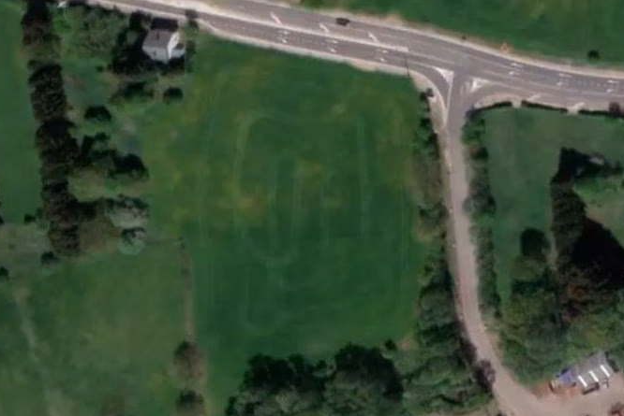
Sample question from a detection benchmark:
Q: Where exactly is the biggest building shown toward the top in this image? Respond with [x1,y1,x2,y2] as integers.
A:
[144,27,184,63]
